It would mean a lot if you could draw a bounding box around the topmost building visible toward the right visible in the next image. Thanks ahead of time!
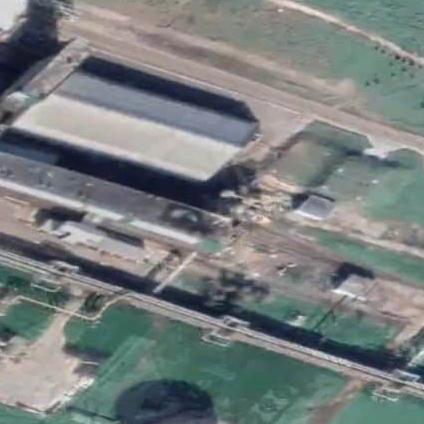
[295,195,336,220]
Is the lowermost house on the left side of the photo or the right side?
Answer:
right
